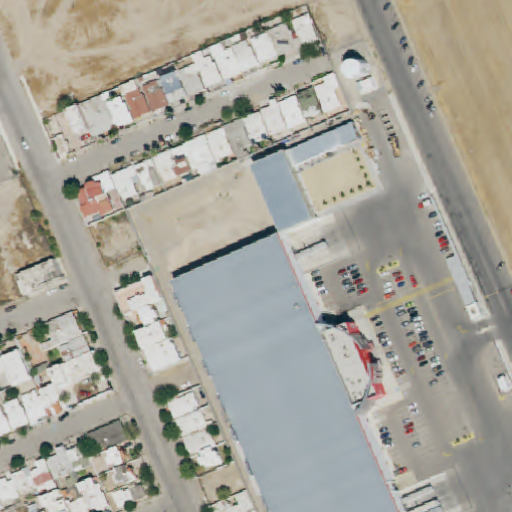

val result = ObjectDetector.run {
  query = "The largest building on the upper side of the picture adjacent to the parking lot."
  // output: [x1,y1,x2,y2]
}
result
[252,150,318,231]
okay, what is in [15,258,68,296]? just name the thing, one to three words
building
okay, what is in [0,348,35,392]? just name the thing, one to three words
house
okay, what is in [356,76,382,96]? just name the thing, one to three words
building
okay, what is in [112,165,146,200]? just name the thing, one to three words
house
